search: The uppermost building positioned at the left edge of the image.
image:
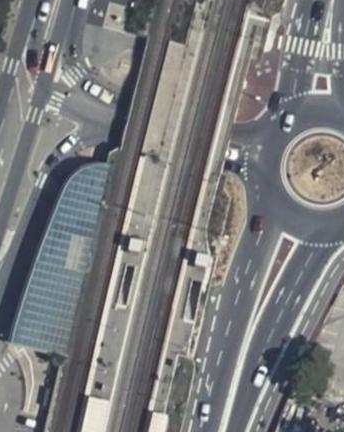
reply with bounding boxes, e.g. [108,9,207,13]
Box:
[10,160,108,354]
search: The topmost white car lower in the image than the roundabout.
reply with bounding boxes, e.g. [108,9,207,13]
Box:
[254,366,269,388]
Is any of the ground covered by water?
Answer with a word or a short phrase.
No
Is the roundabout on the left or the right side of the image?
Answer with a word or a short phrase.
right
